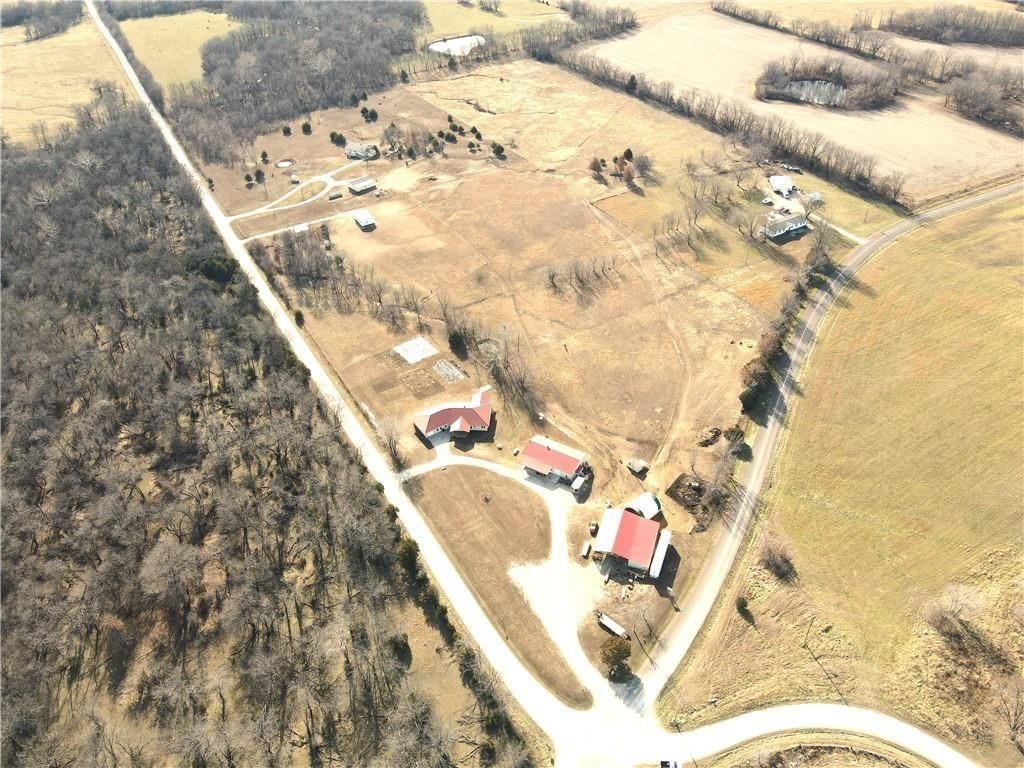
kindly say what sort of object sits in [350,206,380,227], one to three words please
barn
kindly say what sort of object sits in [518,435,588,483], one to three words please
building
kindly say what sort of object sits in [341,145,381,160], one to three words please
house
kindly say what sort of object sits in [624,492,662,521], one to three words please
shed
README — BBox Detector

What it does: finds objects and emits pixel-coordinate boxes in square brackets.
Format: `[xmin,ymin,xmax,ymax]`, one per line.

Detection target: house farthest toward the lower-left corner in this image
[412,389,491,442]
